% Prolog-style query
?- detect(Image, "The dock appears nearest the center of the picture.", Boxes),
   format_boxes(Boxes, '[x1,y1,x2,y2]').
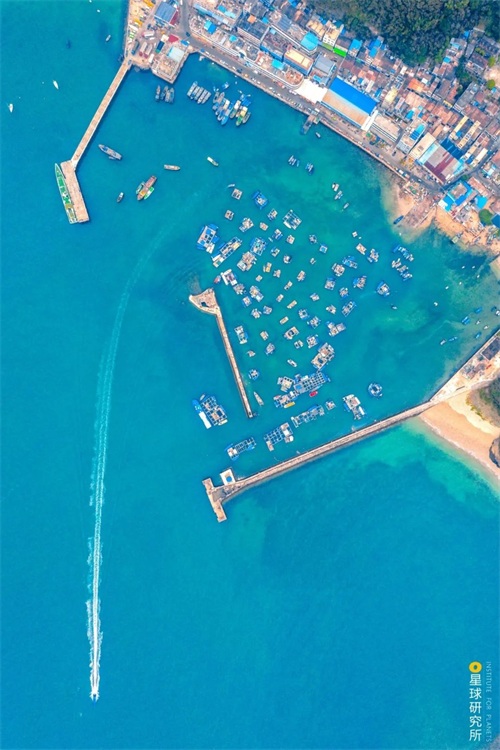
[190,289,255,417]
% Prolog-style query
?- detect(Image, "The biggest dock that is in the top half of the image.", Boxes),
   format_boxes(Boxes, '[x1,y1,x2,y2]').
[61,61,133,223]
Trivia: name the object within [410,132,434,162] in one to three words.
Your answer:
house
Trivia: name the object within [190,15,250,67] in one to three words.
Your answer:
building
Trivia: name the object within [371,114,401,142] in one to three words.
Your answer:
house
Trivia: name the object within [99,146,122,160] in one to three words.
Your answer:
boat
